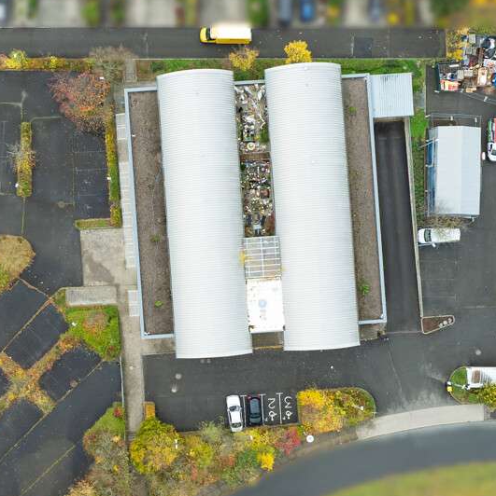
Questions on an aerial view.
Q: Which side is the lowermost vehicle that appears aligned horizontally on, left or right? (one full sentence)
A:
The lowermost vehicle that appears aligned horizontally appears in the right half of the scene.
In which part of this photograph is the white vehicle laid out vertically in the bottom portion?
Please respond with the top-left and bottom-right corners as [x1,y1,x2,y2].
[226,395,243,431]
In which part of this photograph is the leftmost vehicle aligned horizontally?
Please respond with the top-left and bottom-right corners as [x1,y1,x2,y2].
[198,24,254,46]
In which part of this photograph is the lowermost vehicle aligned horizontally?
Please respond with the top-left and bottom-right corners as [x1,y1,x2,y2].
[414,227,461,246]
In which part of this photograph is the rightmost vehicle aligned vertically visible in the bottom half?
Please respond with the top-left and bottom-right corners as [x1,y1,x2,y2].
[246,395,263,427]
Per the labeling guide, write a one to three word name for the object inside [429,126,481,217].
shed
